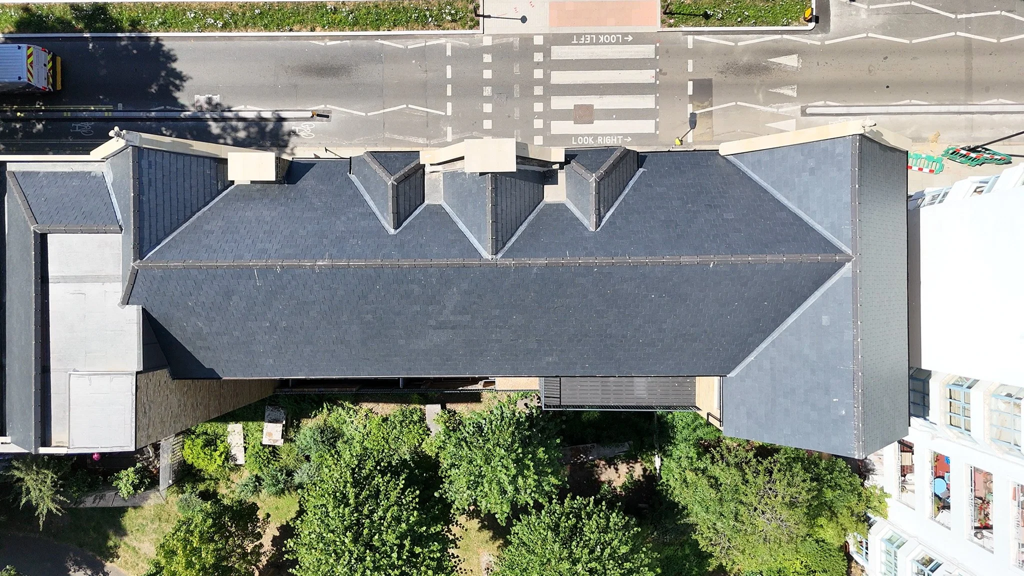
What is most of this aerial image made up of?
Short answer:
buildings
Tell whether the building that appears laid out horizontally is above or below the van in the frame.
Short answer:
below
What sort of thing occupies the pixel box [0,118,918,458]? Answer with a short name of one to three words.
building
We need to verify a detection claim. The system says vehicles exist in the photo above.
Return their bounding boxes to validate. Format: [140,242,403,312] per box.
[0,44,61,99]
